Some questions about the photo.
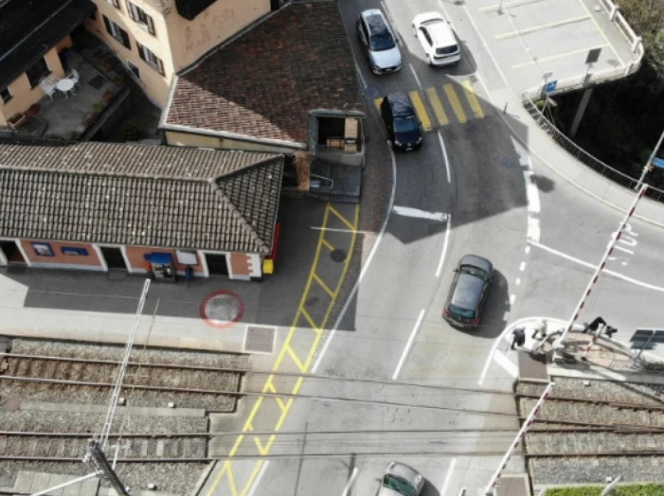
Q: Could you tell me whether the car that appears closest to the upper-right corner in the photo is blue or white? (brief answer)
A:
white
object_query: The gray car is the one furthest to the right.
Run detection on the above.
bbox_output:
[444,249,499,330]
